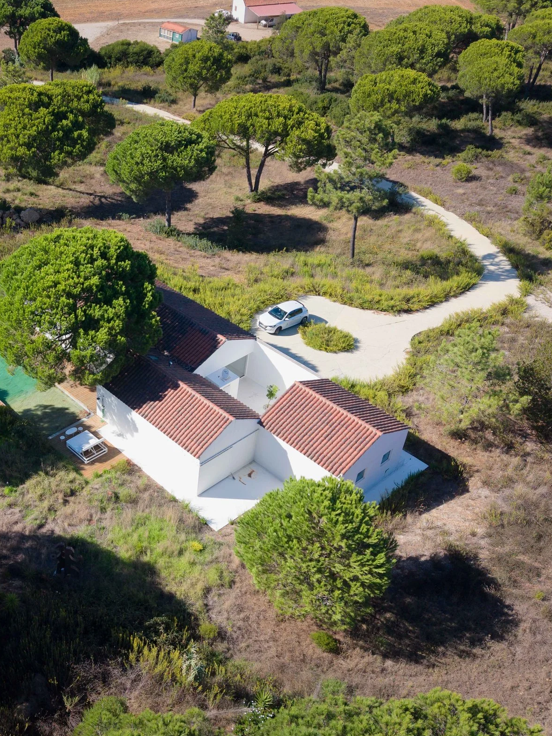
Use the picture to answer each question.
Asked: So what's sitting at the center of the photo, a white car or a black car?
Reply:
white car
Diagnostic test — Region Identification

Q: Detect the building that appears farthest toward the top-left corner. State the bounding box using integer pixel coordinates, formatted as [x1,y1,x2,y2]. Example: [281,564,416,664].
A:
[158,18,201,43]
